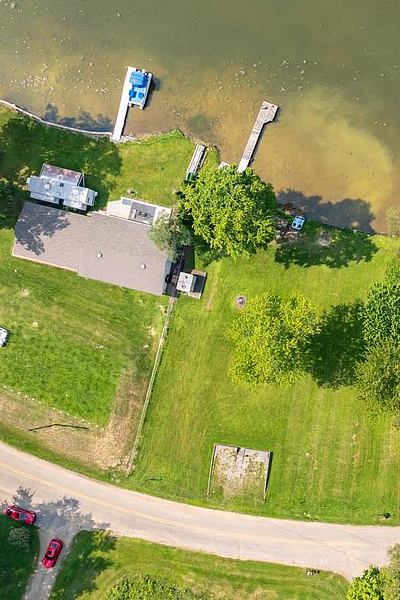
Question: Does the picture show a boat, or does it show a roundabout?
boat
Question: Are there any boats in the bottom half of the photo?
No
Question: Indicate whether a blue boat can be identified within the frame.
Yes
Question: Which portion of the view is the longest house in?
left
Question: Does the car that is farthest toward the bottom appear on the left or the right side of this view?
left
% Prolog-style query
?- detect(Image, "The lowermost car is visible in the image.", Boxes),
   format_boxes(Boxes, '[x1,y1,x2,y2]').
[40,538,63,570]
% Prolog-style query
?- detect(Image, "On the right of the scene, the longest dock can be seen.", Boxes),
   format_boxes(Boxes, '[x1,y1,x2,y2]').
[242,100,279,158]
